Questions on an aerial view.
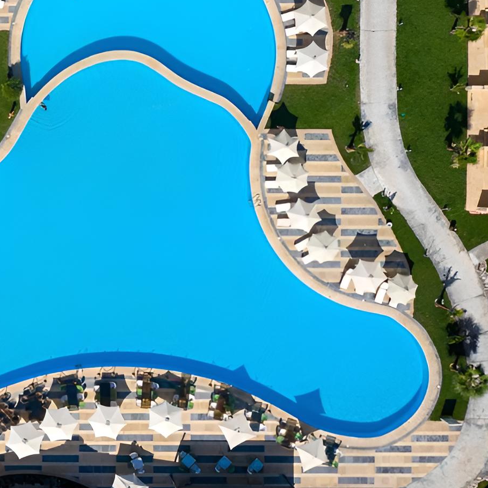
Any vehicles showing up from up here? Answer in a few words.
No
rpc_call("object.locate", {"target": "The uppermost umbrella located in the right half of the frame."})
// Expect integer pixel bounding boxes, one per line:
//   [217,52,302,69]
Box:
[291,0,328,38]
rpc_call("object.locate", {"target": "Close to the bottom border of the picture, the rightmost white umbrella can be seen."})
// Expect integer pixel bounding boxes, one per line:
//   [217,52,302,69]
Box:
[289,434,325,469]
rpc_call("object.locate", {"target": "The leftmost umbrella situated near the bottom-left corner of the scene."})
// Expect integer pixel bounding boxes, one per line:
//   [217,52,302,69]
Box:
[7,417,44,457]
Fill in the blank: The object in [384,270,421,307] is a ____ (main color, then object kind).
white umbrella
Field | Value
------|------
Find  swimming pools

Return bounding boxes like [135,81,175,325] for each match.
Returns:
[21,0,275,125]
[0,61,427,435]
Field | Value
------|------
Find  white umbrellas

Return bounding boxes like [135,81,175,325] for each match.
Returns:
[267,125,301,161]
[295,38,330,78]
[88,399,125,438]
[301,227,341,266]
[291,0,328,38]
[272,159,312,196]
[347,253,385,295]
[7,417,44,457]
[384,270,421,307]
[41,401,79,441]
[147,394,183,436]
[289,434,325,469]
[215,406,256,447]
[286,193,323,233]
